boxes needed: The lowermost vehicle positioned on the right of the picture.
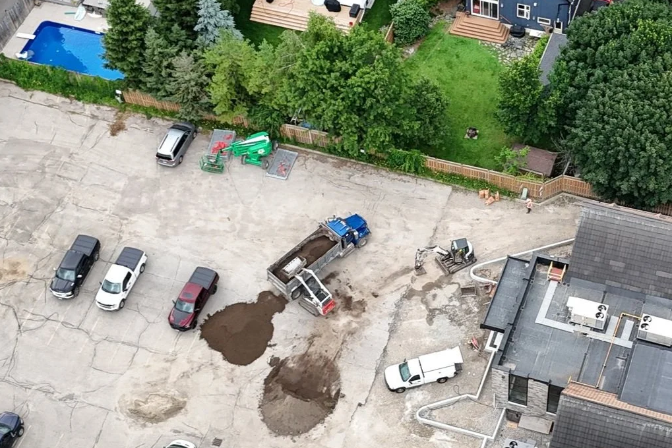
[381,343,465,395]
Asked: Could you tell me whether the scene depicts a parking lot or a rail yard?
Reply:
parking lot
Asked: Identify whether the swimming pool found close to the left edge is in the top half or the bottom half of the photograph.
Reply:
top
